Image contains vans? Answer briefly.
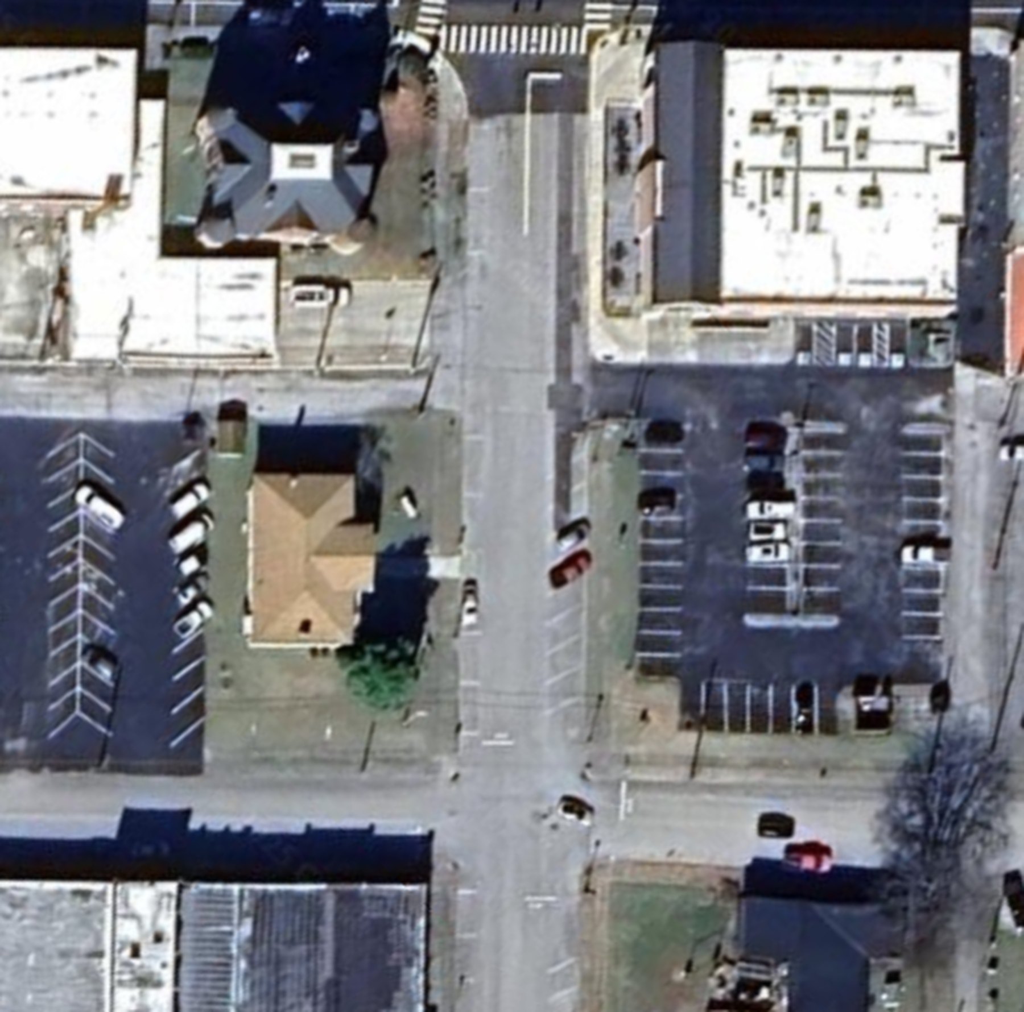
Yes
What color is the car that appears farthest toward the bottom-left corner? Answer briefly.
black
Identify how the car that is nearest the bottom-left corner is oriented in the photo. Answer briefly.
at an angle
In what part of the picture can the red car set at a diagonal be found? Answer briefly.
center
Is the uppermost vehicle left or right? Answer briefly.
left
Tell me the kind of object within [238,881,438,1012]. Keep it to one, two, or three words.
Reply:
building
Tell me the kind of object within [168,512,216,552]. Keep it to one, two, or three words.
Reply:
van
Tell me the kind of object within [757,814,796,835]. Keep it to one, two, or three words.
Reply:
car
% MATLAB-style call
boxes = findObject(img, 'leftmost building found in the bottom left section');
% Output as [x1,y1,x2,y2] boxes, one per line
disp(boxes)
[0,880,114,1012]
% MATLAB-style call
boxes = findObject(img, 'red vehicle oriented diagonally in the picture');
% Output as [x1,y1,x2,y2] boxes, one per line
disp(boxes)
[548,552,594,587]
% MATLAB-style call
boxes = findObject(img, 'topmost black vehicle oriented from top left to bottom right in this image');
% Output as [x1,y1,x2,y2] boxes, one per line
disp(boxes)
[80,643,123,682]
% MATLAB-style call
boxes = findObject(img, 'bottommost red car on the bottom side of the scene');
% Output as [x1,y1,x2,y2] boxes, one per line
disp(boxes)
[785,847,831,867]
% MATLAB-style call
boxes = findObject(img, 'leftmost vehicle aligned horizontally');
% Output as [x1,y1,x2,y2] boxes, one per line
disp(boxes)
[290,284,342,307]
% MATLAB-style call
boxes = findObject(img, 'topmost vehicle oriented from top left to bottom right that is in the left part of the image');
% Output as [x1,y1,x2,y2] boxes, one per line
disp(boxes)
[77,484,123,528]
